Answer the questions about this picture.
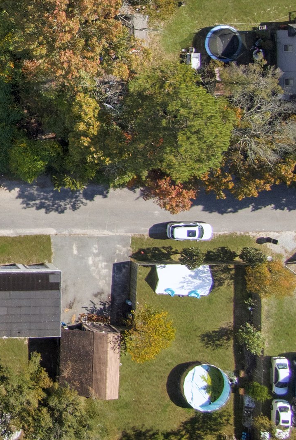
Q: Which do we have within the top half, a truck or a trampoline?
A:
trampoline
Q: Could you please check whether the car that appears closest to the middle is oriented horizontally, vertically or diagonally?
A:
horizontally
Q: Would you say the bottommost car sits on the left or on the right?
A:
right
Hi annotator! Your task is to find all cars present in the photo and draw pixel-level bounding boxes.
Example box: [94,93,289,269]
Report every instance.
[270,398,294,439]
[165,221,211,242]
[289,356,296,398]
[268,355,292,396]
